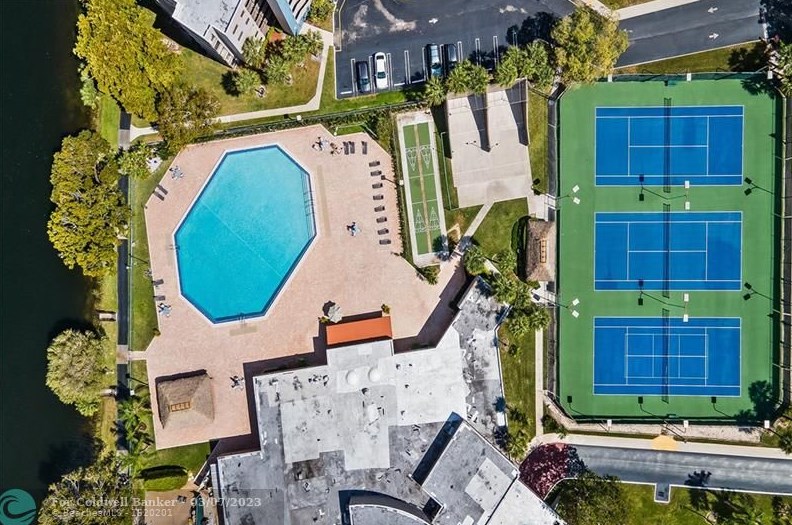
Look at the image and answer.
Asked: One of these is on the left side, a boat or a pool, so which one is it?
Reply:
pool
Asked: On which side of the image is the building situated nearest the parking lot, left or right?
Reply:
left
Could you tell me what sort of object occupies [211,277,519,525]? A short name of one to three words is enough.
building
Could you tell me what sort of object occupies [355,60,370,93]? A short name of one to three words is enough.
car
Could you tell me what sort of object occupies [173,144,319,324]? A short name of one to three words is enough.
swimming pool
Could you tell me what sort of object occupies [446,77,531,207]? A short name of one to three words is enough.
sports court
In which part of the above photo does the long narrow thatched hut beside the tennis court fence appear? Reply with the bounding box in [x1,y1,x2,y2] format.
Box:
[526,219,557,282]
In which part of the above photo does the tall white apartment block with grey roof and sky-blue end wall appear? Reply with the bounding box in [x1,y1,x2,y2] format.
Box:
[159,0,306,70]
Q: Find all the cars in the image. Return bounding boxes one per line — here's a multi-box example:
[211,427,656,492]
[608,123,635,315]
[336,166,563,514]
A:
[374,51,389,88]
[355,60,370,93]
[427,44,443,82]
[444,43,459,74]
